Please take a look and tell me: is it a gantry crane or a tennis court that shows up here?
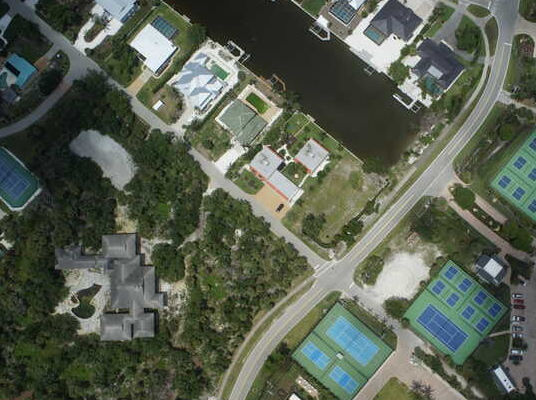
tennis court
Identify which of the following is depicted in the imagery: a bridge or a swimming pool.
swimming pool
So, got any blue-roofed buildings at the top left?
Yes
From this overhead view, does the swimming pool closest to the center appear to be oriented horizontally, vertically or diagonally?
diagonally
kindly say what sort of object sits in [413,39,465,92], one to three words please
house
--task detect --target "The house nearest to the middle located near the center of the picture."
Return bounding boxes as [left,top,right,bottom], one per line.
[249,146,304,204]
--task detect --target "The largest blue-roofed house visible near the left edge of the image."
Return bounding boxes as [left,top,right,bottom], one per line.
[7,52,39,90]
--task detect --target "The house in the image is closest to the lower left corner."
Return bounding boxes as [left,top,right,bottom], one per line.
[54,234,165,342]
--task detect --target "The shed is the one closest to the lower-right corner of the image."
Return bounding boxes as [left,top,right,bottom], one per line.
[486,365,515,395]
